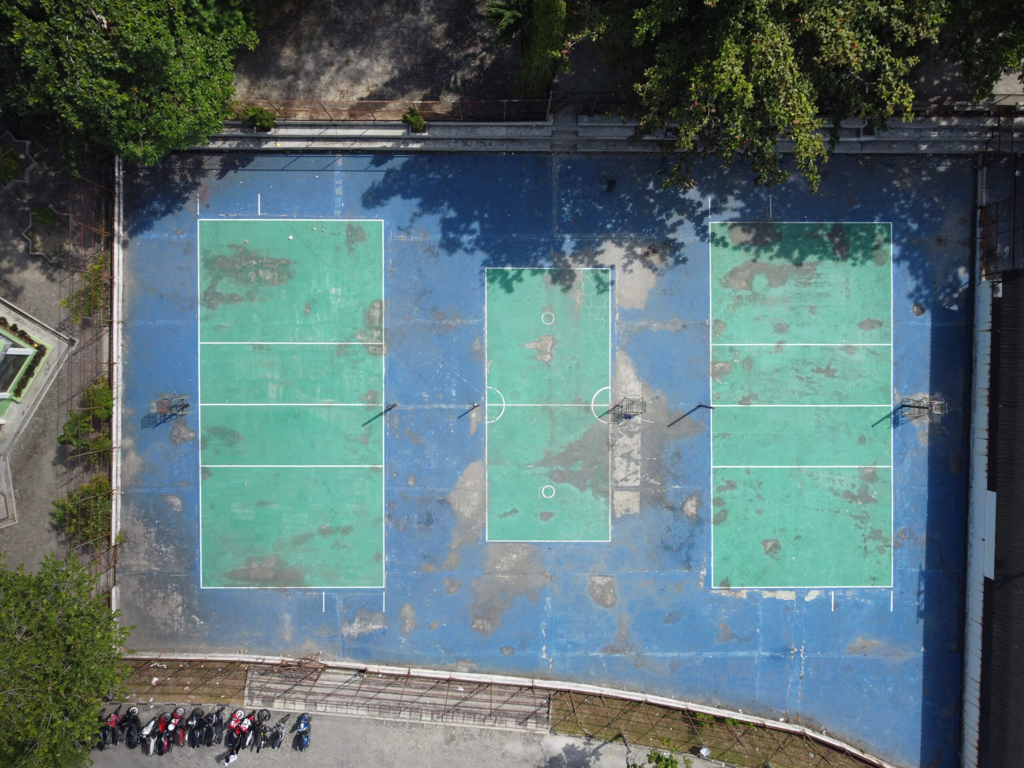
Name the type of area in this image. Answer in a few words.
sports ground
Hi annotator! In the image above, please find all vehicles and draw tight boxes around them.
[180,707,202,754]
[220,708,244,754]
[162,706,185,753]
[104,704,124,751]
[234,708,256,754]
[200,706,223,751]
[133,713,157,760]
[290,711,310,759]
[247,709,269,755]
[115,705,139,752]
[270,710,292,753]
[146,711,170,758]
